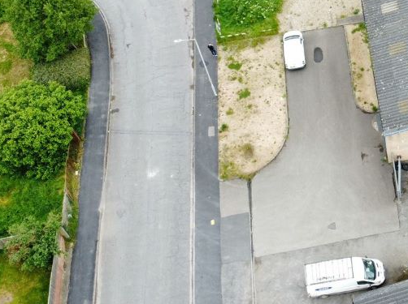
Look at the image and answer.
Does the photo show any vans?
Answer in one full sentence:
Yes, the photo shows a van.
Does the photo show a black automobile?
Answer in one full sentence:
No, there appears to be no black automobile in this shot.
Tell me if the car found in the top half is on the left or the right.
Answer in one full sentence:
You can find the car found in the top half on the right side of the picture.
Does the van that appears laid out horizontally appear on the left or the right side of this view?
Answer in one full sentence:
The van that appears laid out horizontally is on the right side of the image.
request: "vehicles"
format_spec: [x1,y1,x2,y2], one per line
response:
[304,253,383,297]
[282,32,307,72]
